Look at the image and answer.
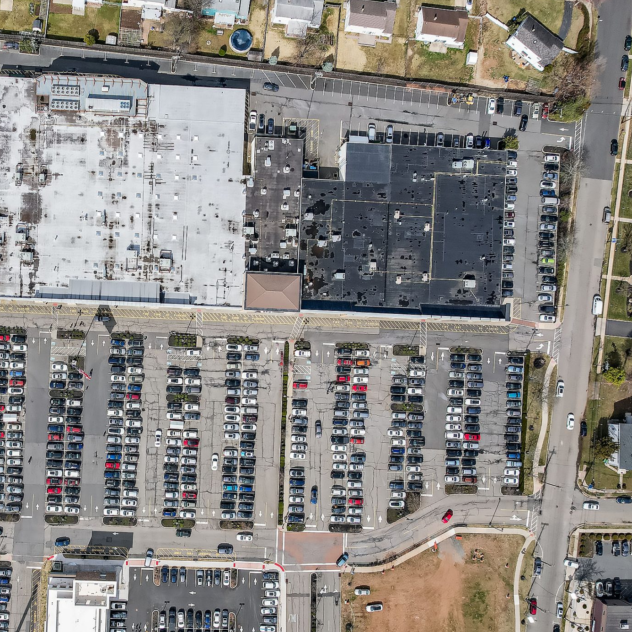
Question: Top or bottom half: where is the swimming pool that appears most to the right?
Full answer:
The top half of the photo is where the swimming pool that appears most to the right is.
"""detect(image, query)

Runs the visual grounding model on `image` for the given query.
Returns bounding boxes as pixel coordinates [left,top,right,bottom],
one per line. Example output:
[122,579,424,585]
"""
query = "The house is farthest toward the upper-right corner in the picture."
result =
[506,16,563,69]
